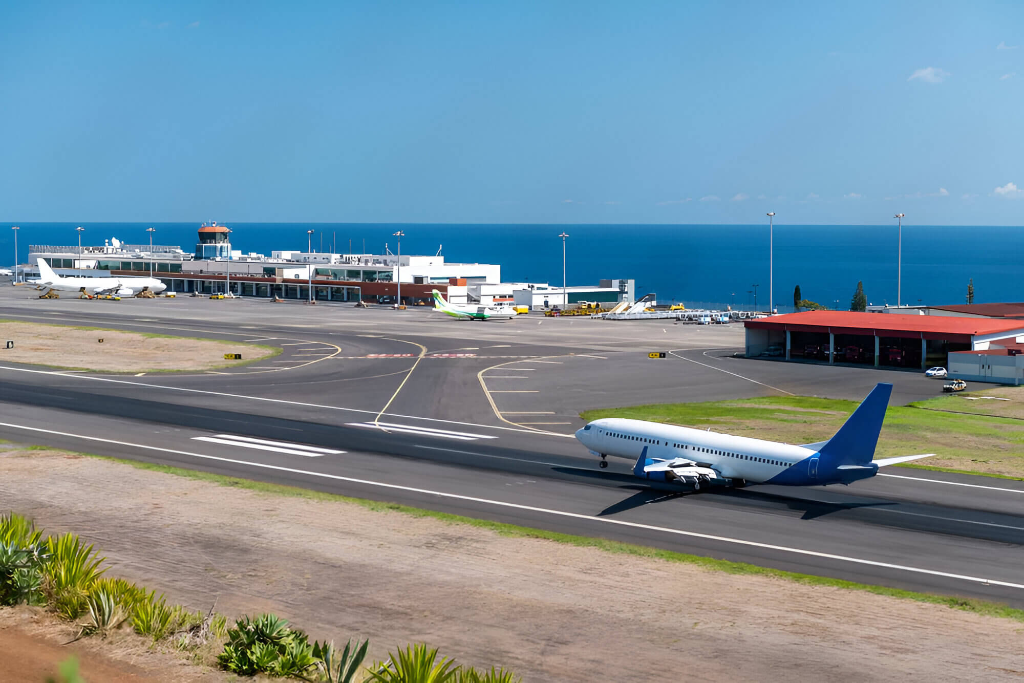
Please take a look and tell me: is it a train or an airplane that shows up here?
airplane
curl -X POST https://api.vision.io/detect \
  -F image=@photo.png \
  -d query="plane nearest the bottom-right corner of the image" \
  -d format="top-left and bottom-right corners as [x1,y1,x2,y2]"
[575,381,932,489]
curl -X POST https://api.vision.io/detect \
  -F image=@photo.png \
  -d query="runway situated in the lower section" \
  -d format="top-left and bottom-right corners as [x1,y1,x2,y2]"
[0,361,1024,611]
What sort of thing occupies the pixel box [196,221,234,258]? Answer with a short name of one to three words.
building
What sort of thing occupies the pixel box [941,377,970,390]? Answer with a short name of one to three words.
vehicle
